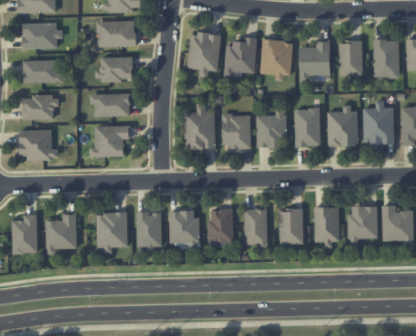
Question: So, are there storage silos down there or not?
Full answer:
No, I find no storage silo anywhere in the image.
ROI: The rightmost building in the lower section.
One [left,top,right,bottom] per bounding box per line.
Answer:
[382,207,414,242]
